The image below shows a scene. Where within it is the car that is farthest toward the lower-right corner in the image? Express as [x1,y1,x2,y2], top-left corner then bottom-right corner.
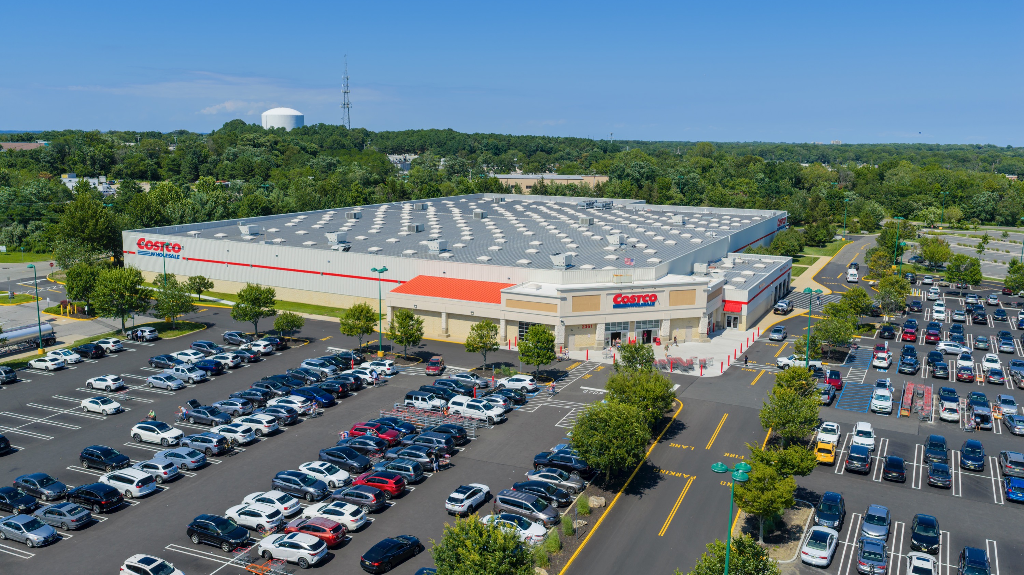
[956,548,992,575]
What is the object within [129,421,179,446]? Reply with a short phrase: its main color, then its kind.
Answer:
white car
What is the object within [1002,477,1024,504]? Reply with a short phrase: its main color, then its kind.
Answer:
blue car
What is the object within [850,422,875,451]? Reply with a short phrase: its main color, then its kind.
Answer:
white car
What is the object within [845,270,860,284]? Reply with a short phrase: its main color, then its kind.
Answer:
white vehicle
